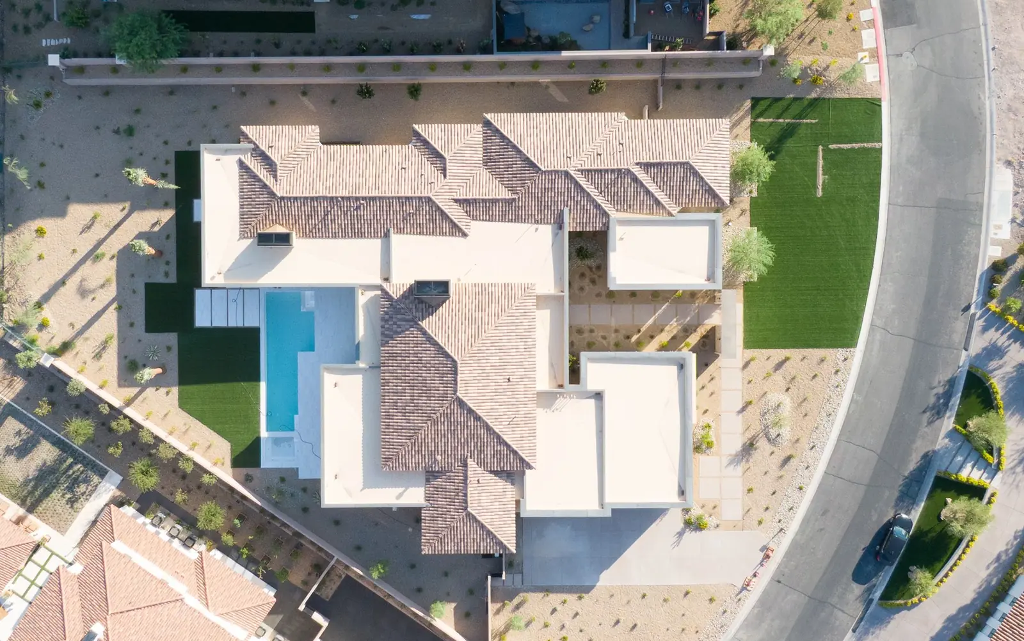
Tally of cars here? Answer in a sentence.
The picture shows 1 car.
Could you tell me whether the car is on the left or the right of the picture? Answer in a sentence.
You can find the car on the right side of the picture.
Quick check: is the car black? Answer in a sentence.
Yes, the car is indeed black.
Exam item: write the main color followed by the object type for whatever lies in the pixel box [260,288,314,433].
blue swimming pool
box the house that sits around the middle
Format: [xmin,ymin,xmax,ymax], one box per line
[201,112,731,557]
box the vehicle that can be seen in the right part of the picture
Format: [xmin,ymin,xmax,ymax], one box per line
[875,513,911,568]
